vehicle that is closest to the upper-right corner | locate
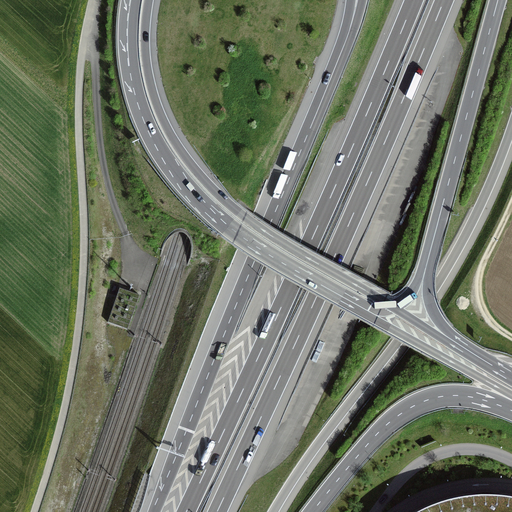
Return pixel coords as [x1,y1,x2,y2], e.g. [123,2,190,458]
[406,67,424,98]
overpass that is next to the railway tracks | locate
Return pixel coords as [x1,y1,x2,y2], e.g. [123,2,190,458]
[213,192,512,391]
